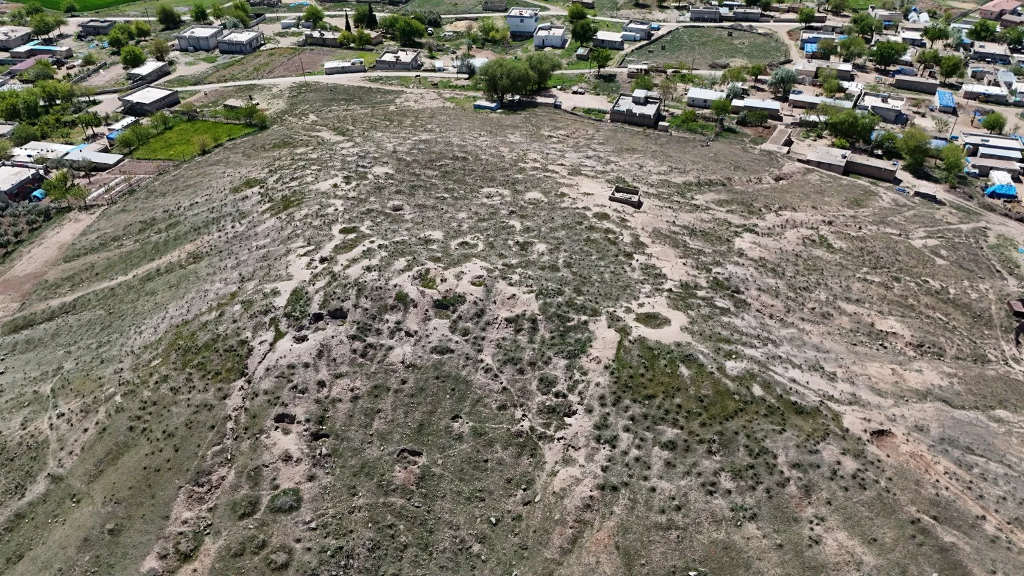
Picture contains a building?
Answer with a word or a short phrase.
Yes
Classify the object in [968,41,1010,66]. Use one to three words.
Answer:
house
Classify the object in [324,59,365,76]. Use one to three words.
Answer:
shed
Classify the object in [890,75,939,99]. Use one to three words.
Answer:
barn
